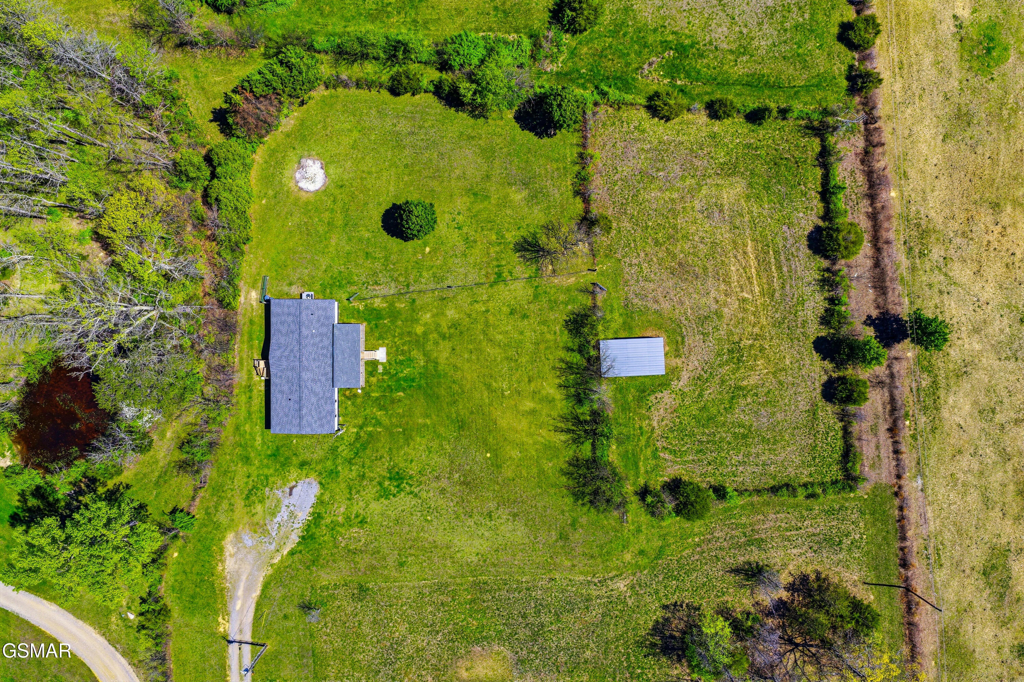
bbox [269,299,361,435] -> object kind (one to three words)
house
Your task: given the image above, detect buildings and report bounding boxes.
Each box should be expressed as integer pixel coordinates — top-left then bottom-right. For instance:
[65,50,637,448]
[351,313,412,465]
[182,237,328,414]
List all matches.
[269,299,361,435]
[599,337,665,377]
